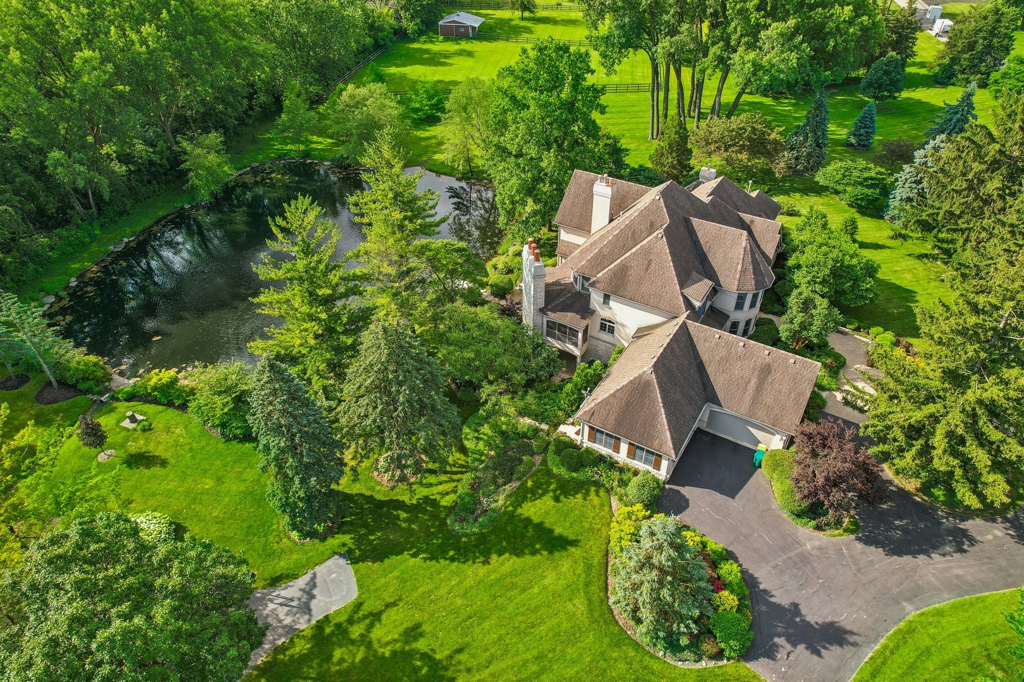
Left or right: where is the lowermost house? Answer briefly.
right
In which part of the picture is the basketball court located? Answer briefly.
bottom left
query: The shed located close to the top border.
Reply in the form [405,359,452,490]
[429,10,486,38]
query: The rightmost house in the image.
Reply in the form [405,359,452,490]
[522,161,822,479]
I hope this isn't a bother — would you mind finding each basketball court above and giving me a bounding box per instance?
[192,552,357,682]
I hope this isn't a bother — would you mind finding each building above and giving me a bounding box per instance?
[522,161,822,479]
[429,10,486,38]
